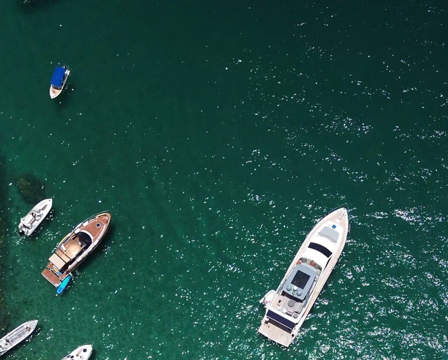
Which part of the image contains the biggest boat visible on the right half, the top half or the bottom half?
bottom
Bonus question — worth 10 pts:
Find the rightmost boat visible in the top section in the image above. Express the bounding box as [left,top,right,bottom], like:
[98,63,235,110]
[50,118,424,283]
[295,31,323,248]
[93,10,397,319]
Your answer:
[50,65,71,102]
